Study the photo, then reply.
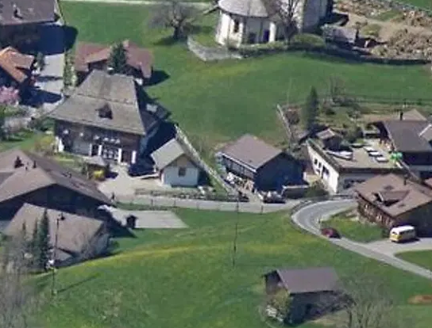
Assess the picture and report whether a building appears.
Yes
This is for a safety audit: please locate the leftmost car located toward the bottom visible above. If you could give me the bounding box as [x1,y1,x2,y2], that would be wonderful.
[231,193,253,205]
